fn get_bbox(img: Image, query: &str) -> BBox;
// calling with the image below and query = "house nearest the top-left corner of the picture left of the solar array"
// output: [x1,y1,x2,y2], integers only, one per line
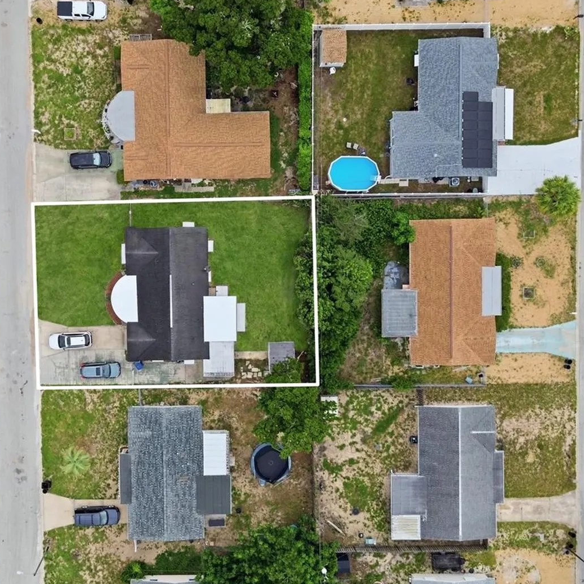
[101,39,270,182]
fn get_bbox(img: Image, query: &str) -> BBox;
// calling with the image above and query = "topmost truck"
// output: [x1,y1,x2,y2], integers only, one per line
[57,0,108,21]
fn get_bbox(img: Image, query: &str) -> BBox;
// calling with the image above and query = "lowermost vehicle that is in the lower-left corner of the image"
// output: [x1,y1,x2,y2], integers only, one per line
[73,506,121,528]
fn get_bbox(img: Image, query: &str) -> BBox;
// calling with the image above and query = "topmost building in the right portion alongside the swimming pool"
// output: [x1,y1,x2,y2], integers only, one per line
[388,34,512,180]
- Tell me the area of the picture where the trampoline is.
bottom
